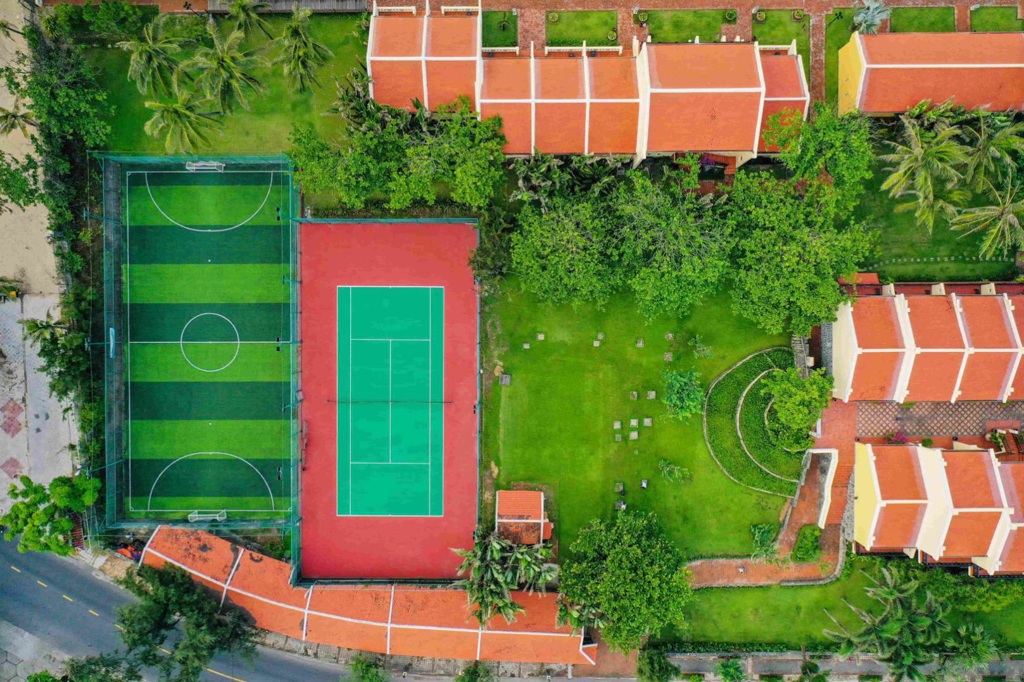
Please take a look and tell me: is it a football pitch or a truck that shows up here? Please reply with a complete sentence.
This aerial view contains a football pitch.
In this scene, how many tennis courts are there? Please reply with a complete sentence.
I count 1 tennis court.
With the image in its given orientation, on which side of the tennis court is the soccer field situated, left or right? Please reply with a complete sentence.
Relative to the tennis court, the soccer field is on the left.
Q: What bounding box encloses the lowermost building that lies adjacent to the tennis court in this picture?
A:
[137,526,597,666]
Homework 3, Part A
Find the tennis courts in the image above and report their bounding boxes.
[302,223,477,578]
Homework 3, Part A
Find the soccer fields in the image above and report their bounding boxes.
[122,167,301,518]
